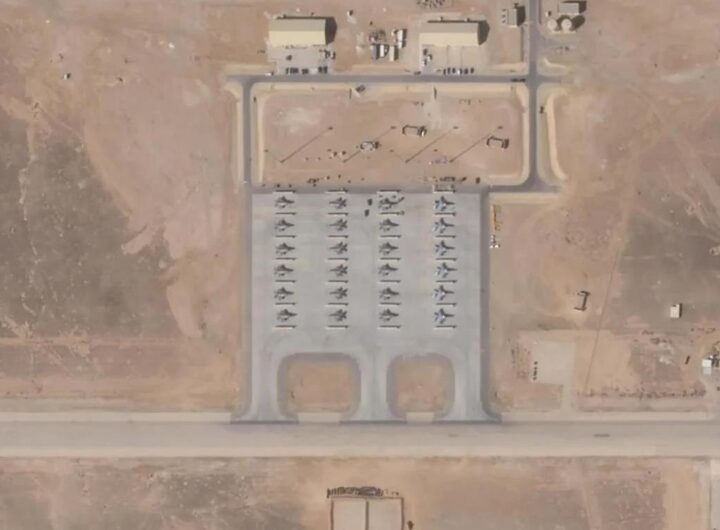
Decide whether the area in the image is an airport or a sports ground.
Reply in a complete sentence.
It's an airport.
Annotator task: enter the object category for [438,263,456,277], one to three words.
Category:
airplane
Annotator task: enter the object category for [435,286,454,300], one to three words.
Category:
airplane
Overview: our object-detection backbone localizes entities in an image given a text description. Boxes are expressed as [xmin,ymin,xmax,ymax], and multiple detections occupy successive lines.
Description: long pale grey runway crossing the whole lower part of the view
[0,412,720,457]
